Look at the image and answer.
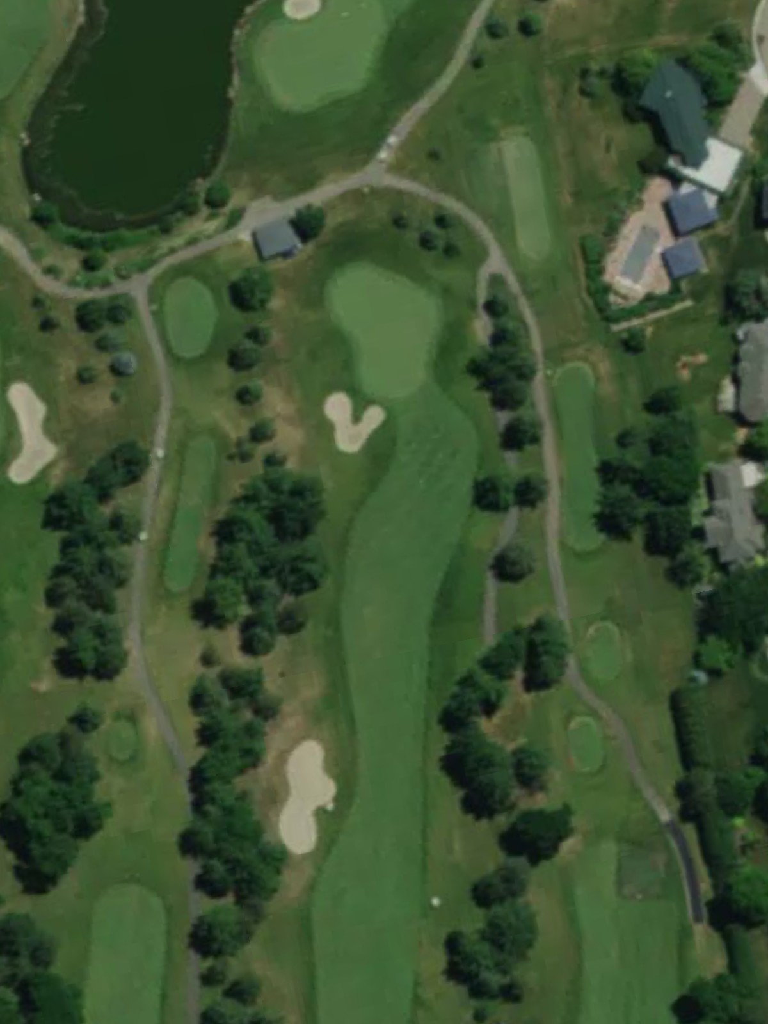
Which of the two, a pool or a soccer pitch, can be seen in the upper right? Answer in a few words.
pool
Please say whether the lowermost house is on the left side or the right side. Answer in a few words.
right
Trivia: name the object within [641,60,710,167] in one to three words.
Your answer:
house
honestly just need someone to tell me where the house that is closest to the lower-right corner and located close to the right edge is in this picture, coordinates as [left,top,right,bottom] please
[706,464,766,562]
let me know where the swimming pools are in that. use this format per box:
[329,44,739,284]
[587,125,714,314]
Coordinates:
[620,224,661,284]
